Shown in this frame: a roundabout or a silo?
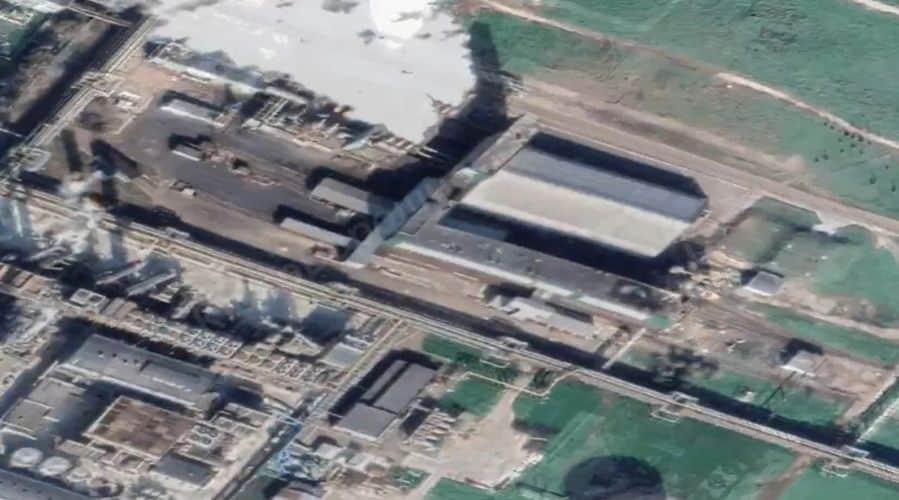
silo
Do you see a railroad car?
No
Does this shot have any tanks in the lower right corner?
No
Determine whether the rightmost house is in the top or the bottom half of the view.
bottom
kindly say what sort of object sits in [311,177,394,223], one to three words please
building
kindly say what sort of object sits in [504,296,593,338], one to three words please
shed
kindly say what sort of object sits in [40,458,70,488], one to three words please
storage tank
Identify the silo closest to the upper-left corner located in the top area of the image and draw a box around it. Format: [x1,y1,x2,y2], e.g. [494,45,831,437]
[68,173,88,196]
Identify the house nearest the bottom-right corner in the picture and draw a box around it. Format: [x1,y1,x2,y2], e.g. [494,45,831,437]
[781,349,823,375]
